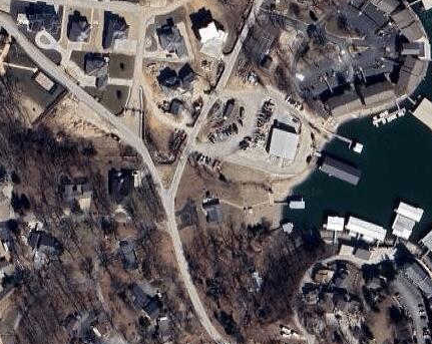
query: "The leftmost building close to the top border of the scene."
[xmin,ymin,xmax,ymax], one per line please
[24,14,61,35]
